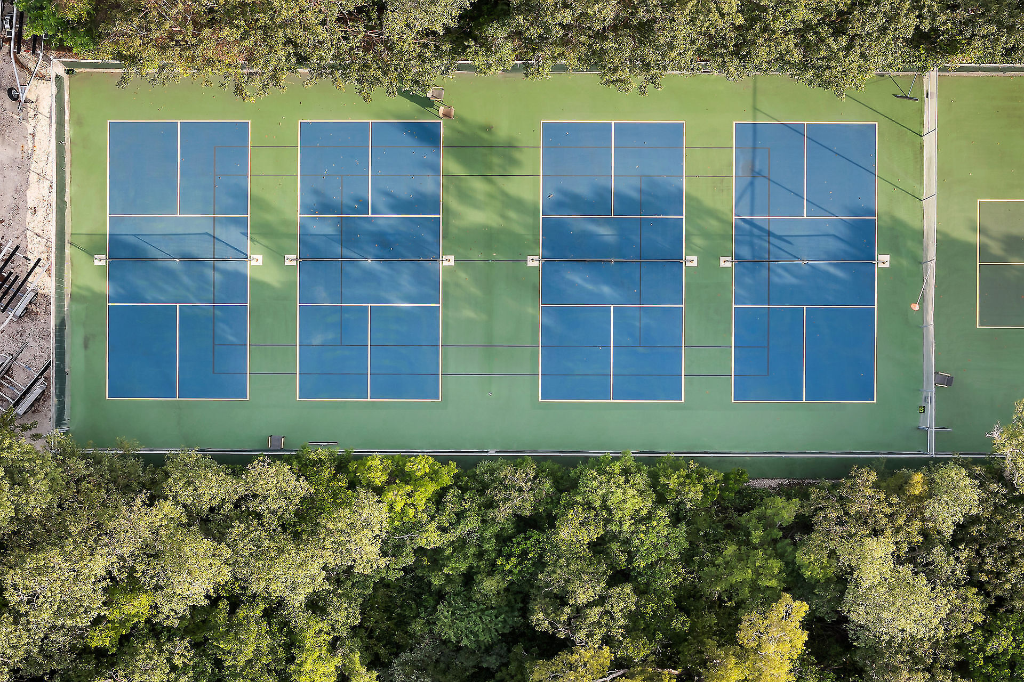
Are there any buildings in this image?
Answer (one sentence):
No, no building can be seen from above.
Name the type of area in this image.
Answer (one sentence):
This looks like a sports ground.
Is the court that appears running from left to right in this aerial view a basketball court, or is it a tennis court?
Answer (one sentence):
I'd identify the court that appears running from left to right as a tennis court.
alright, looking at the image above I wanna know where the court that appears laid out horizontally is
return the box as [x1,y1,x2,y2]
[70,71,921,478]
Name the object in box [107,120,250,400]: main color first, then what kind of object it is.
blue sports court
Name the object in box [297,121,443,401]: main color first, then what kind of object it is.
blue sports court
